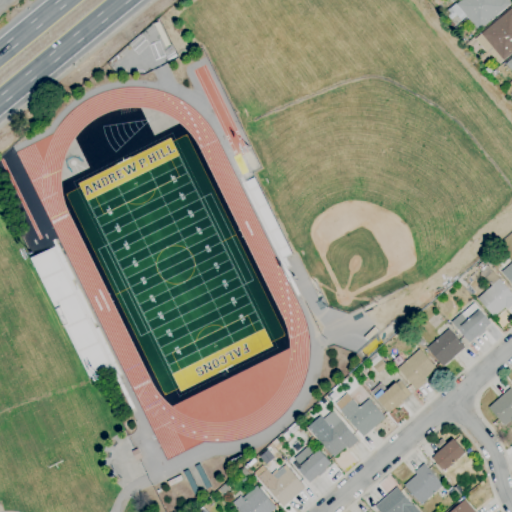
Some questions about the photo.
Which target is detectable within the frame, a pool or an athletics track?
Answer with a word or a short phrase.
athletics track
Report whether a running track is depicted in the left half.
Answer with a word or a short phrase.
Yes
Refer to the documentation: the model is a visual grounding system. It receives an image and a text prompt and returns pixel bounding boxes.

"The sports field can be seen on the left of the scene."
[66,133,285,396]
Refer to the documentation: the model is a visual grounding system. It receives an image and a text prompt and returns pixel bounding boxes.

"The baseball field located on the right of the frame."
[246,78,512,311]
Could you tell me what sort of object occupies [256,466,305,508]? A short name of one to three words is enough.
house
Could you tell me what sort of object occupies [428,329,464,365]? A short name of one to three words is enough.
house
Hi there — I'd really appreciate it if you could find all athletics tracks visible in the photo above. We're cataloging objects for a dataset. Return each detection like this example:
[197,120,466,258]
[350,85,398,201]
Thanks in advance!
[17,86,310,458]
